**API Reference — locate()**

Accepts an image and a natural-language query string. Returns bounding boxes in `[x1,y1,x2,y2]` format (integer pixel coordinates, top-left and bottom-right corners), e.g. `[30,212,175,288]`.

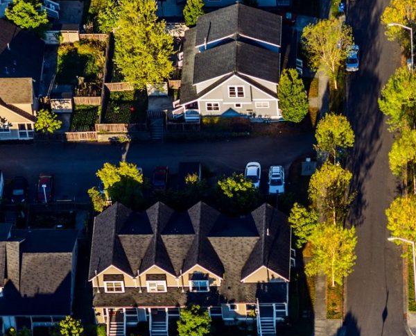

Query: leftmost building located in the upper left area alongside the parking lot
[0,15,52,138]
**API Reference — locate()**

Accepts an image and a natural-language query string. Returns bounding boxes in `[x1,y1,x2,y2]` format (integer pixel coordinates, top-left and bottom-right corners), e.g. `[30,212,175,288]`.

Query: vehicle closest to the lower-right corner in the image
[268,167,285,195]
